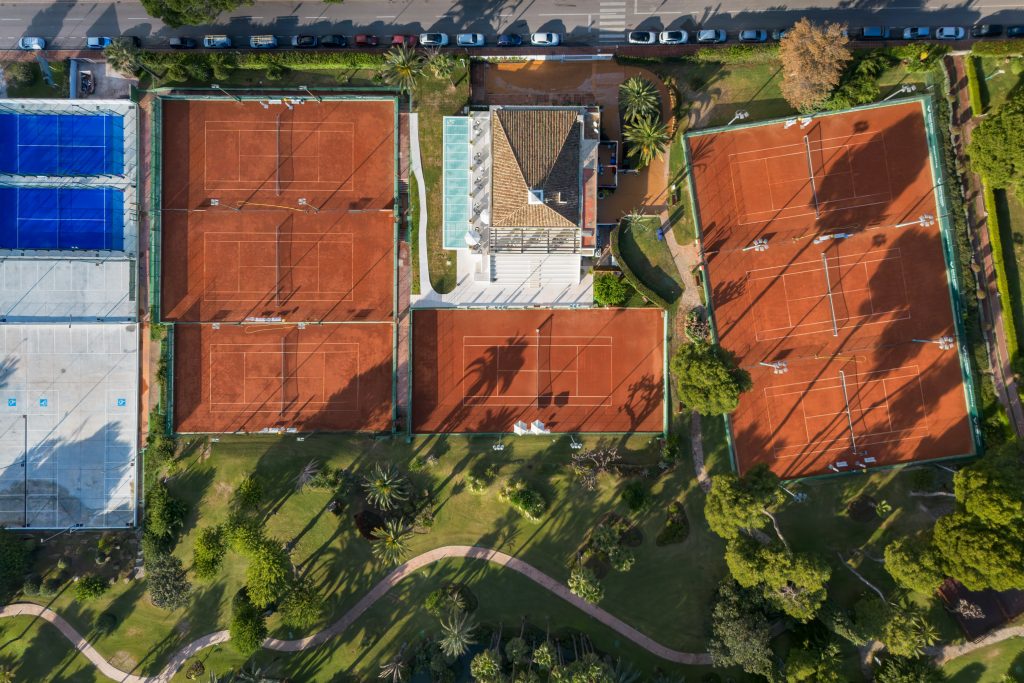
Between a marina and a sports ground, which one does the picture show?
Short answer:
sports ground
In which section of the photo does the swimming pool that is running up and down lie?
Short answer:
top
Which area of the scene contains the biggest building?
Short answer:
top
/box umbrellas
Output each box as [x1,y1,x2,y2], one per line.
[533,421,544,433]
[477,208,488,224]
[465,231,482,248]
[515,421,526,433]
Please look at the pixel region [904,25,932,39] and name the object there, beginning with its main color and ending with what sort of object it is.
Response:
blue car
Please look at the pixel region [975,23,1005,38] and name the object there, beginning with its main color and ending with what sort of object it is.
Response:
black car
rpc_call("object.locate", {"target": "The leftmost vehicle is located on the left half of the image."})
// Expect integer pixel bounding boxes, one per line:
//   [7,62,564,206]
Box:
[16,35,44,50]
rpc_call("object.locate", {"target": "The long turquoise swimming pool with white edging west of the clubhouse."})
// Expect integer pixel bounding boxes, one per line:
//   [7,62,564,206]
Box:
[443,116,470,249]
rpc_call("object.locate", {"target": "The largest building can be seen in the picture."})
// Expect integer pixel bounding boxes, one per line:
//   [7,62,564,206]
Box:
[488,105,599,259]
